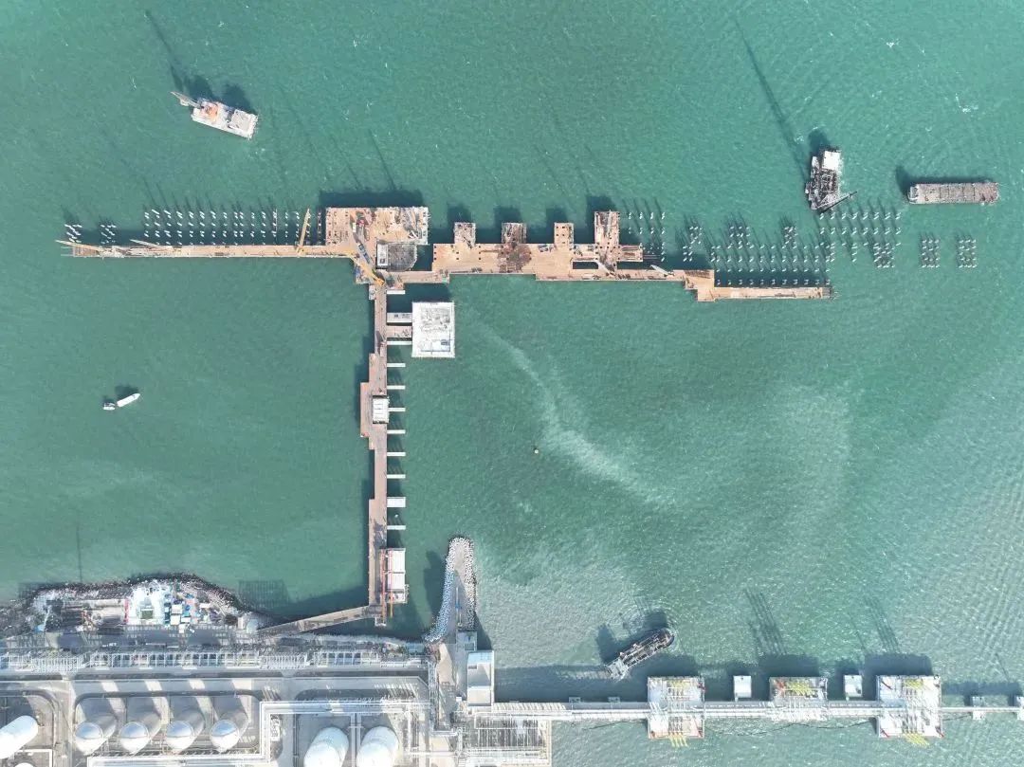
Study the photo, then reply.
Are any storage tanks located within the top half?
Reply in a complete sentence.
No, no storage tank can be made out within the top half.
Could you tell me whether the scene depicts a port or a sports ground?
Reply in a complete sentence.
The area seen from above is a port.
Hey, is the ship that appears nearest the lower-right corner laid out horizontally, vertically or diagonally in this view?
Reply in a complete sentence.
What the image shows is the ship that appears nearest the lower-right corner lying diagonally.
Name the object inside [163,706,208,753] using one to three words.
storage tank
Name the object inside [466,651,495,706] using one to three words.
building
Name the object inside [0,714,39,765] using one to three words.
storage tank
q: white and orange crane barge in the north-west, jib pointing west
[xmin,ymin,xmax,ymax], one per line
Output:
[170,91,255,137]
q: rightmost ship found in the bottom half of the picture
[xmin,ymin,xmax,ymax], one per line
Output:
[610,630,677,686]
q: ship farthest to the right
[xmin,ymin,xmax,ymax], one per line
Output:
[909,181,1000,204]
